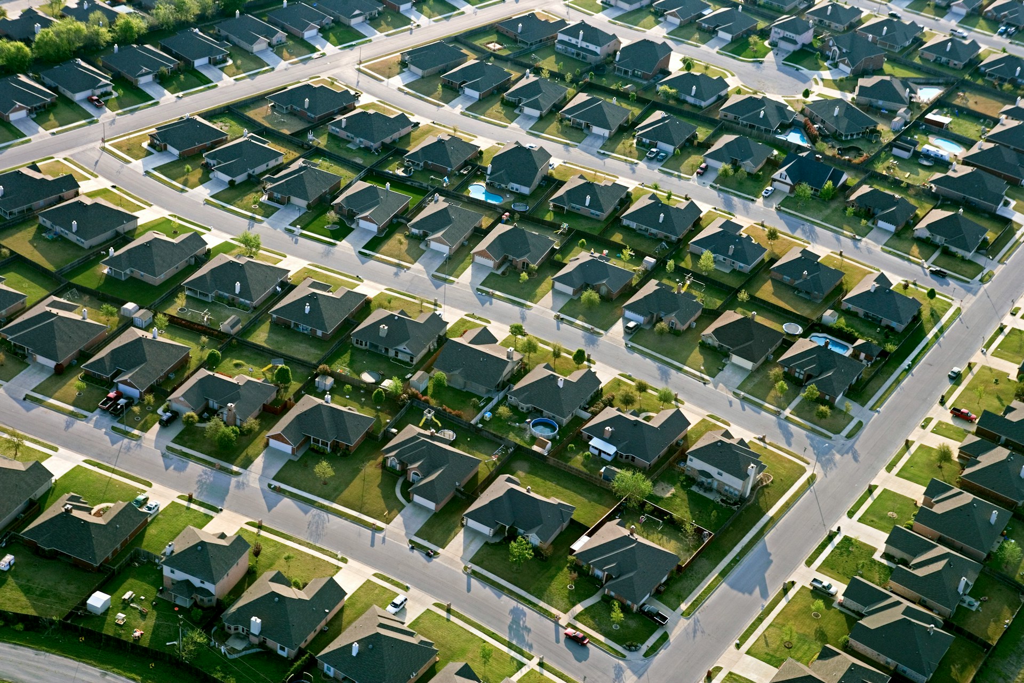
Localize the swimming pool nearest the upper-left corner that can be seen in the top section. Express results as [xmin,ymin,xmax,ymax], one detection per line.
[464,182,507,204]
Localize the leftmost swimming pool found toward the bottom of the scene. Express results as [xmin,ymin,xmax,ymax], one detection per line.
[532,421,558,440]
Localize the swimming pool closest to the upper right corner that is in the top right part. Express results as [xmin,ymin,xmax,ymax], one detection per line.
[913,85,946,101]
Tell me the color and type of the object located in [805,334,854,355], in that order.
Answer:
blue swimming pool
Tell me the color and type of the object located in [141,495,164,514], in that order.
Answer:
white car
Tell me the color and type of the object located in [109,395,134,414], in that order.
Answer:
black vehicle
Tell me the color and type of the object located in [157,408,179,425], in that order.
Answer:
black car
